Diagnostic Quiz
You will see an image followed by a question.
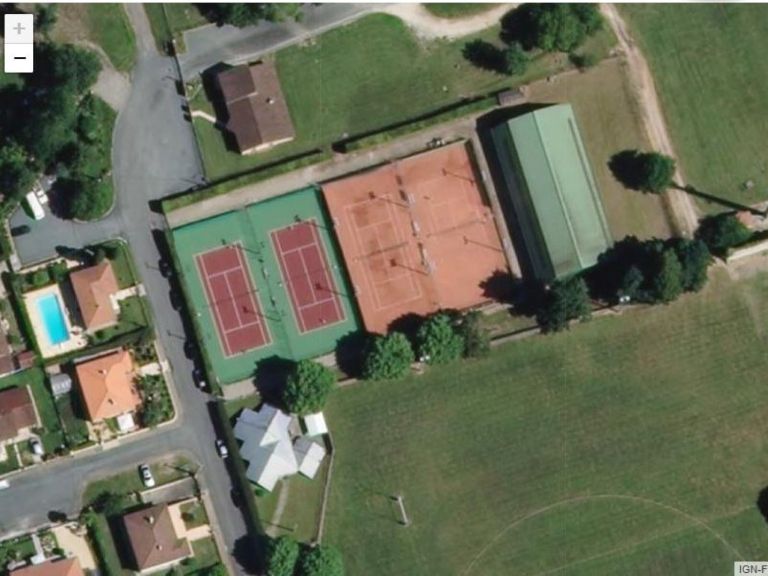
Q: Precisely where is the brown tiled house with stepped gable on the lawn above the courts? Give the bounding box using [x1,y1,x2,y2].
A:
[218,60,294,150]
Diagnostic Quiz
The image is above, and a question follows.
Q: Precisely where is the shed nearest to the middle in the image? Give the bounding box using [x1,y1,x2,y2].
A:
[304,412,328,437]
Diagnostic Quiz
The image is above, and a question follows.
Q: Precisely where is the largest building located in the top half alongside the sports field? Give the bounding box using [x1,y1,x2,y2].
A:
[491,103,617,283]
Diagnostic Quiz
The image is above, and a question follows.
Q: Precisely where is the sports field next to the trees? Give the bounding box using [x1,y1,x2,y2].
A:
[317,254,768,576]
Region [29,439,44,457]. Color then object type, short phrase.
white car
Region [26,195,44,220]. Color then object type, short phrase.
white vehicle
